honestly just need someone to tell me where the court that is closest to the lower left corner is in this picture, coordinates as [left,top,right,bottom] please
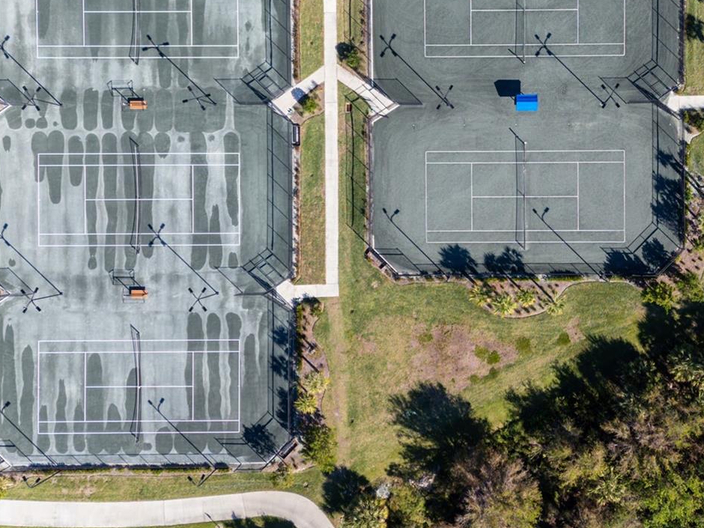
[0,294,294,465]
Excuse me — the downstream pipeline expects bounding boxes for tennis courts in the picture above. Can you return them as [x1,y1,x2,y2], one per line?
[0,105,294,294]
[372,105,684,276]
[0,294,294,465]
[371,0,682,105]
[0,0,292,105]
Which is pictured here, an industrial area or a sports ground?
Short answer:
sports ground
